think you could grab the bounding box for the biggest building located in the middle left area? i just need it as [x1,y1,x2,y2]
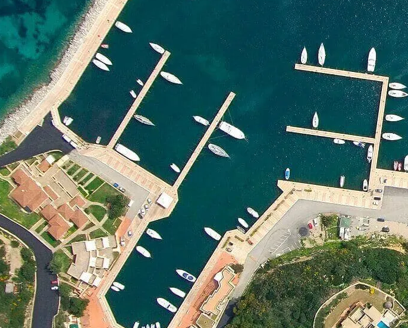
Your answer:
[11,154,93,240]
